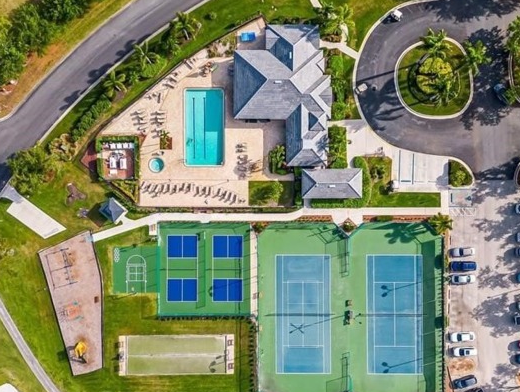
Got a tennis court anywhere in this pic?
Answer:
Yes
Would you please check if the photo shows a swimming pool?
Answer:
Yes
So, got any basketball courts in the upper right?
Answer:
No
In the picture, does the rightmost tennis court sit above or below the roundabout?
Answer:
below it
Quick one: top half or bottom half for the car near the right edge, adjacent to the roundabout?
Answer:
top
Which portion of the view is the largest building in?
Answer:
top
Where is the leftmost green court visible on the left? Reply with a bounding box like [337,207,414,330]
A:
[113,246,157,292]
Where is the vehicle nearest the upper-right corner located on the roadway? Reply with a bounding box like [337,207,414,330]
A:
[490,81,510,106]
